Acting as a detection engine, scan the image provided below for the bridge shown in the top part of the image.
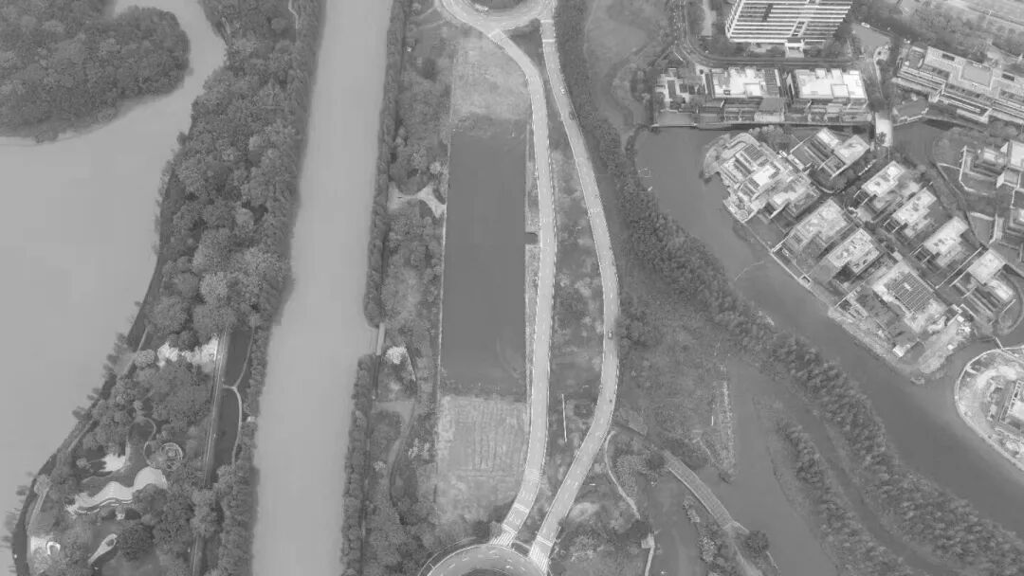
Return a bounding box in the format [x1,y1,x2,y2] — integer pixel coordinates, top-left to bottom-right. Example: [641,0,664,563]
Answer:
[876,111,894,151]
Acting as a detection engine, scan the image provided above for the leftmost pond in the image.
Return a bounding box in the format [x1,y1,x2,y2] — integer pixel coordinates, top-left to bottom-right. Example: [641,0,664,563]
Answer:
[441,132,537,397]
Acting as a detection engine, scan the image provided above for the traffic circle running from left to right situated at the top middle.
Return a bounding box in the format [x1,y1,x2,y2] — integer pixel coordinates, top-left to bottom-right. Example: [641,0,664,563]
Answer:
[432,0,558,36]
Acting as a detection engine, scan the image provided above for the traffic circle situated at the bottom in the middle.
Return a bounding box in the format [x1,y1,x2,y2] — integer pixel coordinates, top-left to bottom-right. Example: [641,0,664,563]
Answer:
[413,531,562,576]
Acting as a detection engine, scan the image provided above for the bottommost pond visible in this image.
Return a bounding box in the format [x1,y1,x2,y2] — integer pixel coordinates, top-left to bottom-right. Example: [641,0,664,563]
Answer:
[690,363,828,576]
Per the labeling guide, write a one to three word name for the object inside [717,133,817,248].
house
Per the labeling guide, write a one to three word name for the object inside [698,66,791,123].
house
